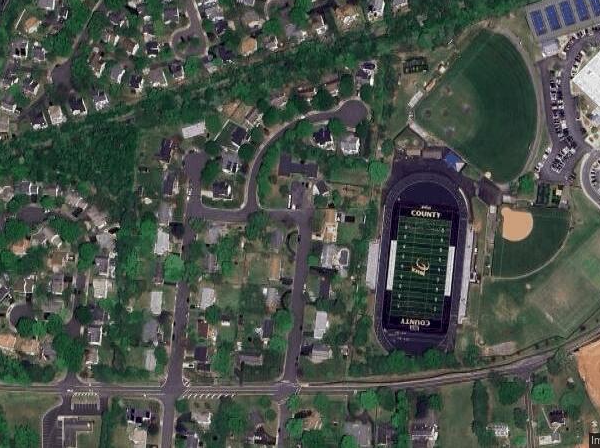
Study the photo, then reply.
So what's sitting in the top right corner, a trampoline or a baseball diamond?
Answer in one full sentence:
The one visible in the top right corner is a baseball diamond.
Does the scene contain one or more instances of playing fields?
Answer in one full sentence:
Yes, looking at the shot, I can spot a playing field.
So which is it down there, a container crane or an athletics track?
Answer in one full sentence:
There is an athletics track in the scene.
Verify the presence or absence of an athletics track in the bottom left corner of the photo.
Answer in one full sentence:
No, there's no athletics track to be seen in the bottom left corner of the photo.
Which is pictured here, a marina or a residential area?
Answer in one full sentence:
It's a residential area.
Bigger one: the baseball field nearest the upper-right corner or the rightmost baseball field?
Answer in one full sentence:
It is the baseball field nearest the upper-right corner that is larger, not the rightmost baseball field.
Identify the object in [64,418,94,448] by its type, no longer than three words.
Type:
building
